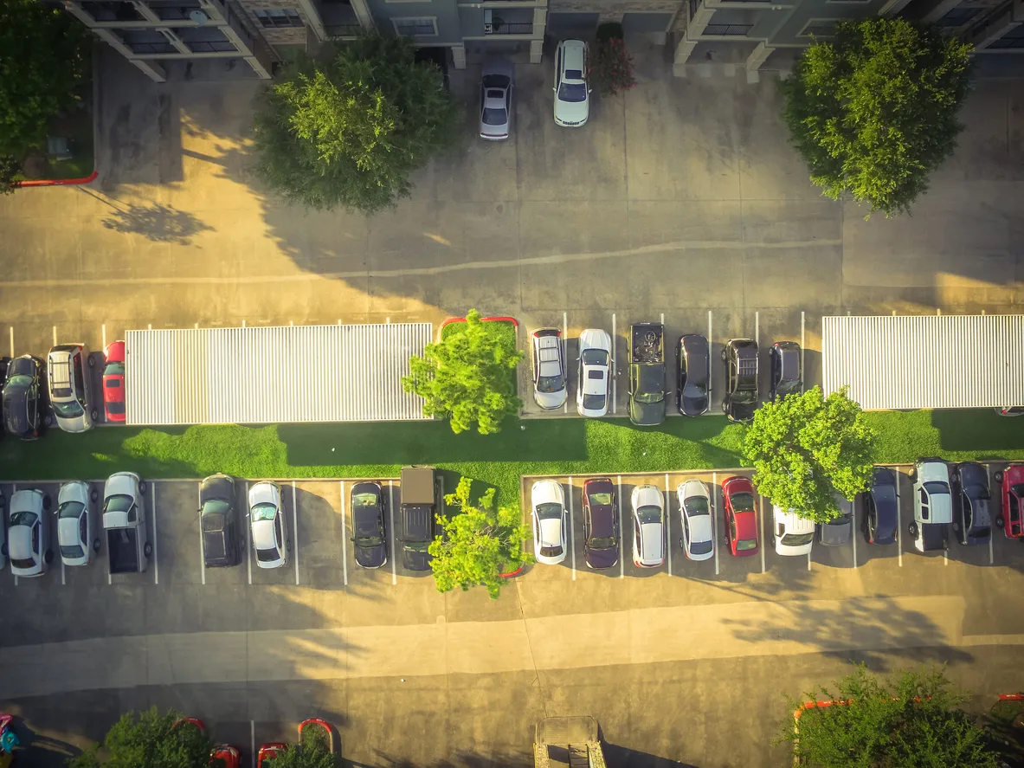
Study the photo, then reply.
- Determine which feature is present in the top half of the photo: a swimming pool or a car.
car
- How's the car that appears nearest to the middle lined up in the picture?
vertically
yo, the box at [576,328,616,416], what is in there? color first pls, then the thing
white car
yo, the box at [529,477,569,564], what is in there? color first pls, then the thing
white car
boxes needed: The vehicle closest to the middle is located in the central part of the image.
[531,328,570,410]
